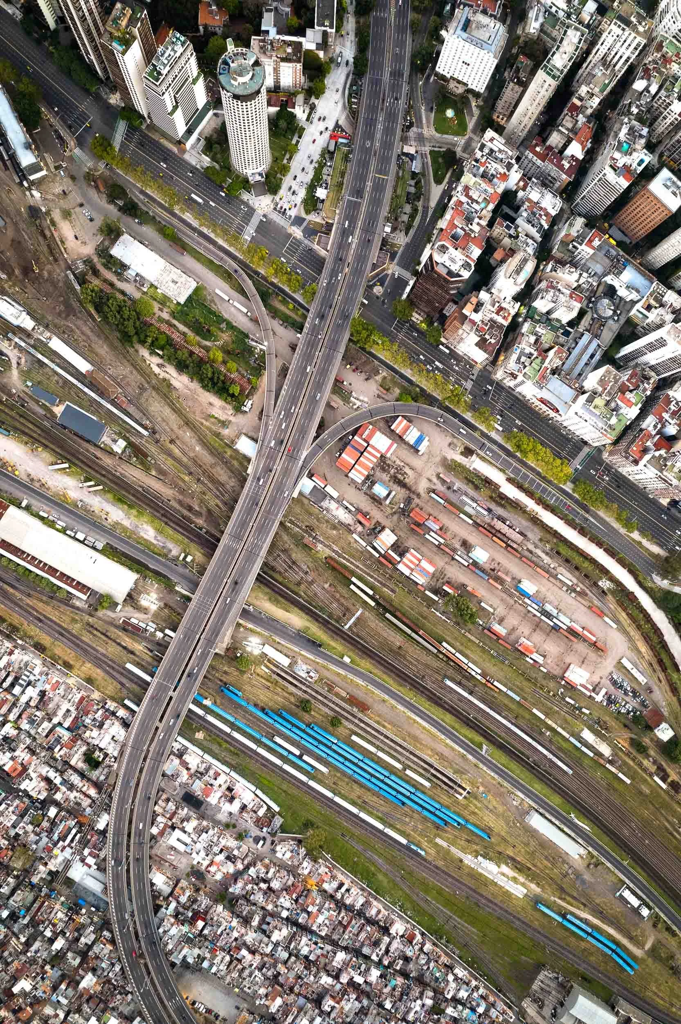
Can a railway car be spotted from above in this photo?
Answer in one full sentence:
Yes, the picture does show a railway car.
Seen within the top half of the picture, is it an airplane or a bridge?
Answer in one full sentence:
You can see a bridge within the top half of the picture.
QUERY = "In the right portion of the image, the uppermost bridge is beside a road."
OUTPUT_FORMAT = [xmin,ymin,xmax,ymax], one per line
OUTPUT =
[298,402,586,524]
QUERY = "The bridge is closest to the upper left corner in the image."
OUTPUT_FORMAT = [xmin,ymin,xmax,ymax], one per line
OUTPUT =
[136,194,276,453]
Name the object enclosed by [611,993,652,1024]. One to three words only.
shed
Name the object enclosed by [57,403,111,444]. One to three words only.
shed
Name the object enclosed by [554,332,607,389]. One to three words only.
building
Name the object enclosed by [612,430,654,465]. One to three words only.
building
